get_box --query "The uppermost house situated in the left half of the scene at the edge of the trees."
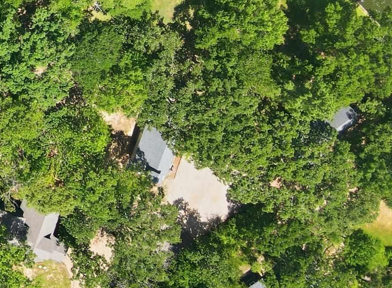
[128,123,176,182]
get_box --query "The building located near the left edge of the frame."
[0,194,66,262]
